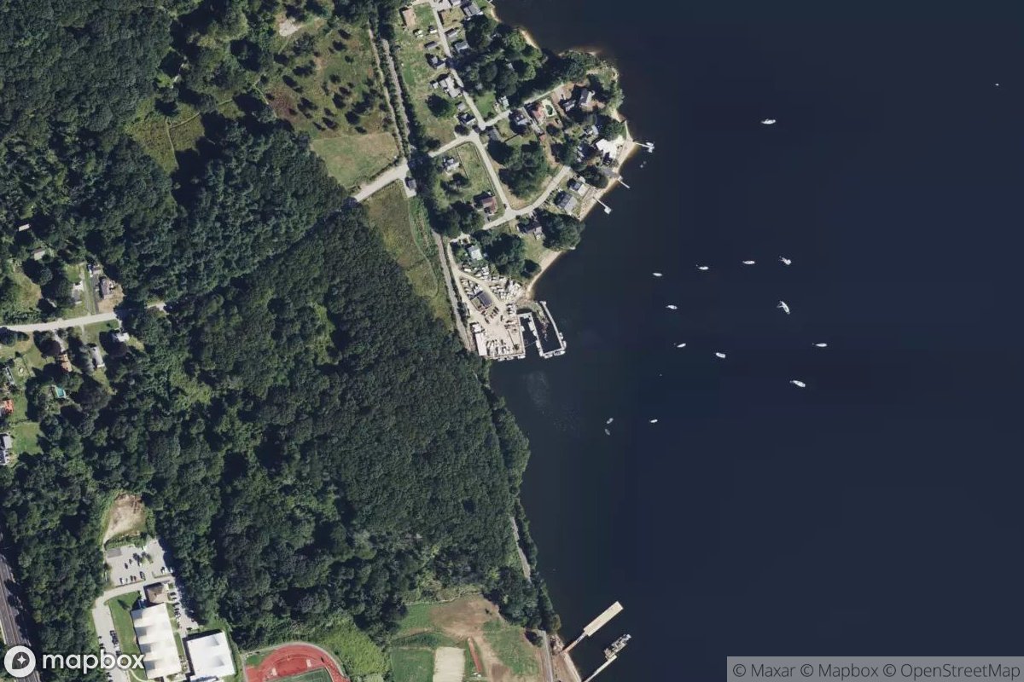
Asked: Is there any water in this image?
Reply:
Yes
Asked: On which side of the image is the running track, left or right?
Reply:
left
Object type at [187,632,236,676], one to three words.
building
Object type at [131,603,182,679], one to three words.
building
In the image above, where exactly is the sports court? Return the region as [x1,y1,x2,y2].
[434,647,465,682]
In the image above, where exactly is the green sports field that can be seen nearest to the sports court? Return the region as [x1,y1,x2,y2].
[392,649,433,682]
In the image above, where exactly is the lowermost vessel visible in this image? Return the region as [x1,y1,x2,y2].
[605,635,632,660]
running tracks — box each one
[246,640,345,682]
